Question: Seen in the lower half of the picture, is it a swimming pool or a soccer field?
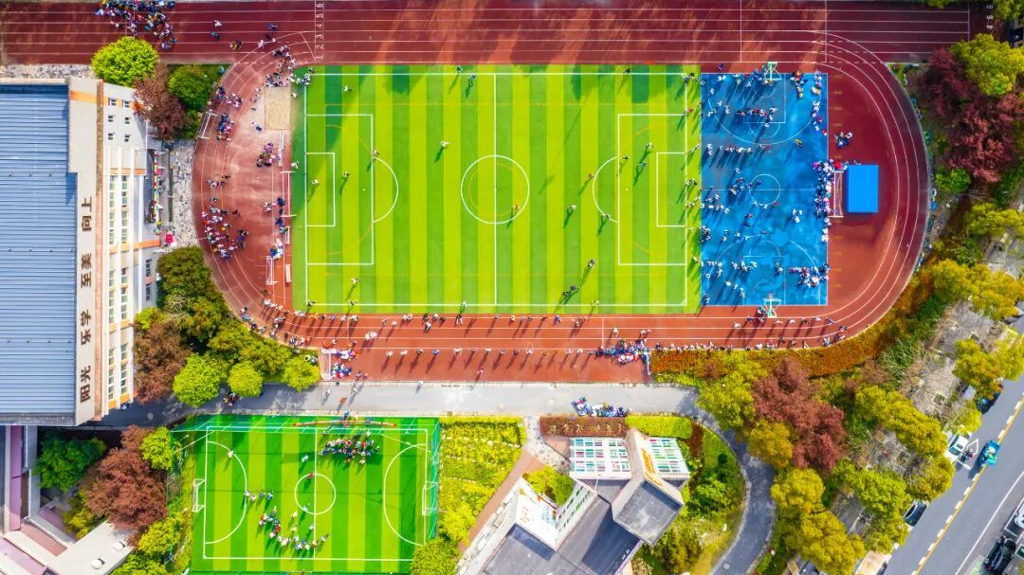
soccer field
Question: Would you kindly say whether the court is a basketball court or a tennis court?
basketball court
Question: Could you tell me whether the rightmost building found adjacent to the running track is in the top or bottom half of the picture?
bottom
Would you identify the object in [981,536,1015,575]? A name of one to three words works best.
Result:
car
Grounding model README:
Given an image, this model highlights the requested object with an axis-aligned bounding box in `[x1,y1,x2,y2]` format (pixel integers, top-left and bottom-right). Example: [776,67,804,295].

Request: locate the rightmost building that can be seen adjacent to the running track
[451,427,693,575]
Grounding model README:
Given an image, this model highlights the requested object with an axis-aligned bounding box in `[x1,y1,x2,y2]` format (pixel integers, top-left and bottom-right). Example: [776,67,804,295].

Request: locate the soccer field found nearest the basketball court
[292,64,701,314]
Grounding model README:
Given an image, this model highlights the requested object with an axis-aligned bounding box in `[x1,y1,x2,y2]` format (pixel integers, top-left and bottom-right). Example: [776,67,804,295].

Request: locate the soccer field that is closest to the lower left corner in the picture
[169,418,438,575]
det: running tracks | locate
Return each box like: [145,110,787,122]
[0,0,1008,382]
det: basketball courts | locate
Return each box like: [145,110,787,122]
[701,72,828,307]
